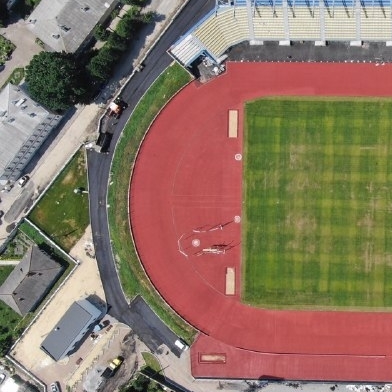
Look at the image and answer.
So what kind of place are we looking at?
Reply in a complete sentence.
It's a sports ground.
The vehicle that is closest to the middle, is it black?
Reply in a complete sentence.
Yes, black is the color of the vehicle that is closest to the middle.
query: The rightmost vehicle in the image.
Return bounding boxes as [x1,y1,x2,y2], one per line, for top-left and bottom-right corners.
[171,337,188,350]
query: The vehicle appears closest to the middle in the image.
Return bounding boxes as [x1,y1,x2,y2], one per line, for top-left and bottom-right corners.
[94,127,113,153]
